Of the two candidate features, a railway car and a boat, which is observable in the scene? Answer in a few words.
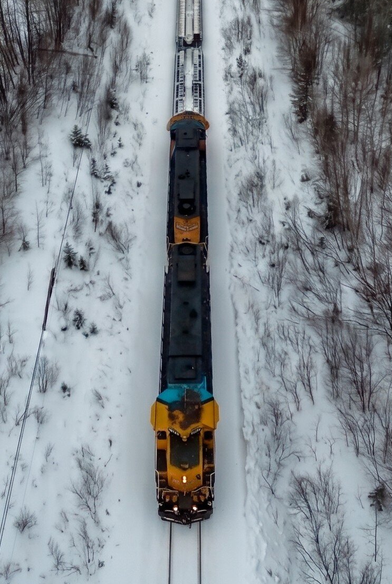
railway car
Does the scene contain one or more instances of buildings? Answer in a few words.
No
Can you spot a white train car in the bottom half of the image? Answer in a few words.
No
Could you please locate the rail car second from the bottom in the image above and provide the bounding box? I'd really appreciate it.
[166,118,210,268]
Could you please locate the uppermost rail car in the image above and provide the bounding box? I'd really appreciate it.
[175,0,203,45]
